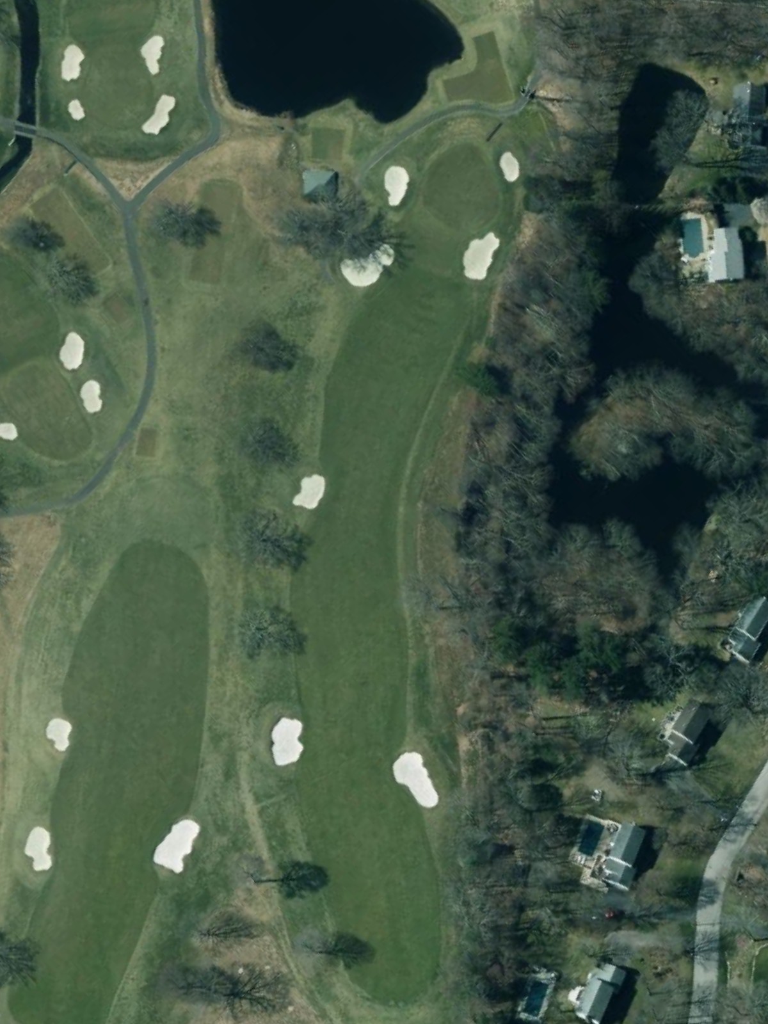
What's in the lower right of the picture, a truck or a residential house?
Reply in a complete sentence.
The one visible in the lower right of the picture is a residential house.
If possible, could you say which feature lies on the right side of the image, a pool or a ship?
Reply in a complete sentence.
The one visible on the right side of the image is a pool.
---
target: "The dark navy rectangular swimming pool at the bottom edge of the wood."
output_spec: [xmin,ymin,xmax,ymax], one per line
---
[523,978,550,1018]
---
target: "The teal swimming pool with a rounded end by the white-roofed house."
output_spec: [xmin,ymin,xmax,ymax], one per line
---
[682,218,704,257]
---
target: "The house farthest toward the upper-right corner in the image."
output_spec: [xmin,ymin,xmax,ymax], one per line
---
[731,80,768,154]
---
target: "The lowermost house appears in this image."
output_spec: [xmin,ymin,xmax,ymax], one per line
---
[576,963,629,1022]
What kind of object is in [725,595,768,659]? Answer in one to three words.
house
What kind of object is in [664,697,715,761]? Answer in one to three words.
house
